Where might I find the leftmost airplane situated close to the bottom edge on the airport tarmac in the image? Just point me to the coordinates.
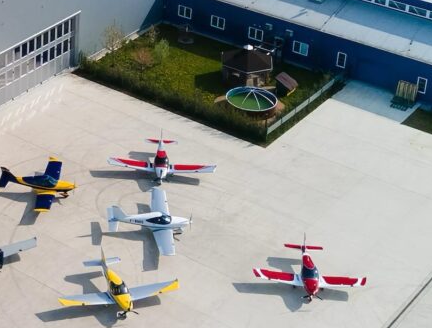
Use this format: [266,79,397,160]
[58,243,177,317]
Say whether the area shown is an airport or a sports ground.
airport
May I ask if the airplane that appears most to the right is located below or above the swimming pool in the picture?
below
